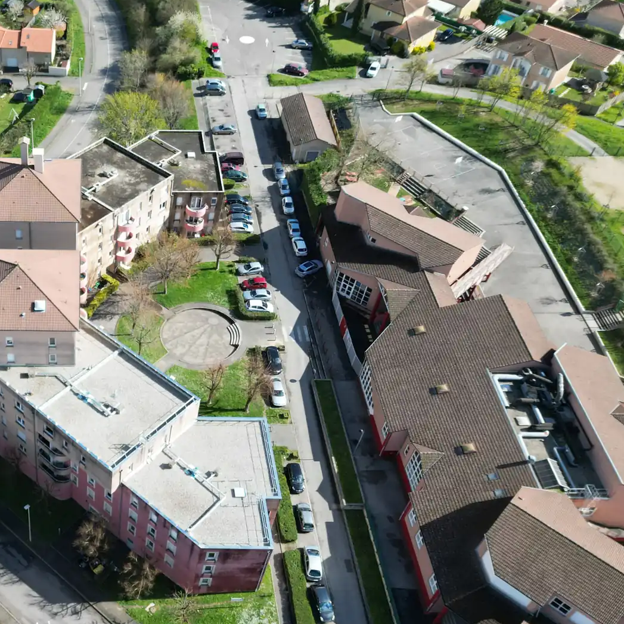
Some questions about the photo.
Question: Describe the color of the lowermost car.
blue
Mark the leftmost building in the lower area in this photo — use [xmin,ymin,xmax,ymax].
[0,249,284,593]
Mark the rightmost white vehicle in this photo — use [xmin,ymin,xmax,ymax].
[366,64,380,77]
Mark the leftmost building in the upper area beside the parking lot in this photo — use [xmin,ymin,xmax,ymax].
[0,129,224,305]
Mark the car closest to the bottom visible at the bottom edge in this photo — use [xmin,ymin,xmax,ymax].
[311,583,335,624]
